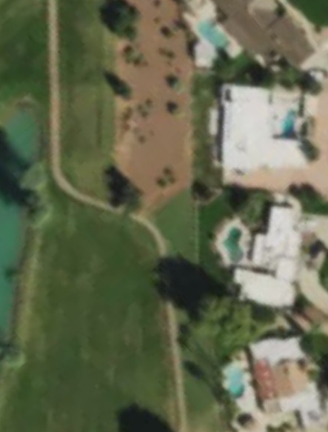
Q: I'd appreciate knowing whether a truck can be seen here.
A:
No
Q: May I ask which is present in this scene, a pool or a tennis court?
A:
pool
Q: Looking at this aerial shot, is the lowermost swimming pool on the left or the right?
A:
right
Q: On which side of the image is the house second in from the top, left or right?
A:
right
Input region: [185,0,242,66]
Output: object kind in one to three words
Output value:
swimming pool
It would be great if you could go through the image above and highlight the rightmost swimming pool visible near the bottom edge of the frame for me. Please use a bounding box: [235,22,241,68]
[223,357,267,432]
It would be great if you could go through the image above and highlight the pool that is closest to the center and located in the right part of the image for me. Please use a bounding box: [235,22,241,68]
[214,218,254,268]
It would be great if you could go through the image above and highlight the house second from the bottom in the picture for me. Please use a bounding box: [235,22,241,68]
[235,205,301,307]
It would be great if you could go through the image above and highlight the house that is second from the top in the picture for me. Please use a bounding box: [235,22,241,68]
[224,86,307,174]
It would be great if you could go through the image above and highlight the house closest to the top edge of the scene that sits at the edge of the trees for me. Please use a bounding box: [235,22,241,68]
[212,0,325,67]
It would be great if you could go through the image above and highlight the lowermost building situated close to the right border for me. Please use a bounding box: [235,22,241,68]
[250,337,321,427]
